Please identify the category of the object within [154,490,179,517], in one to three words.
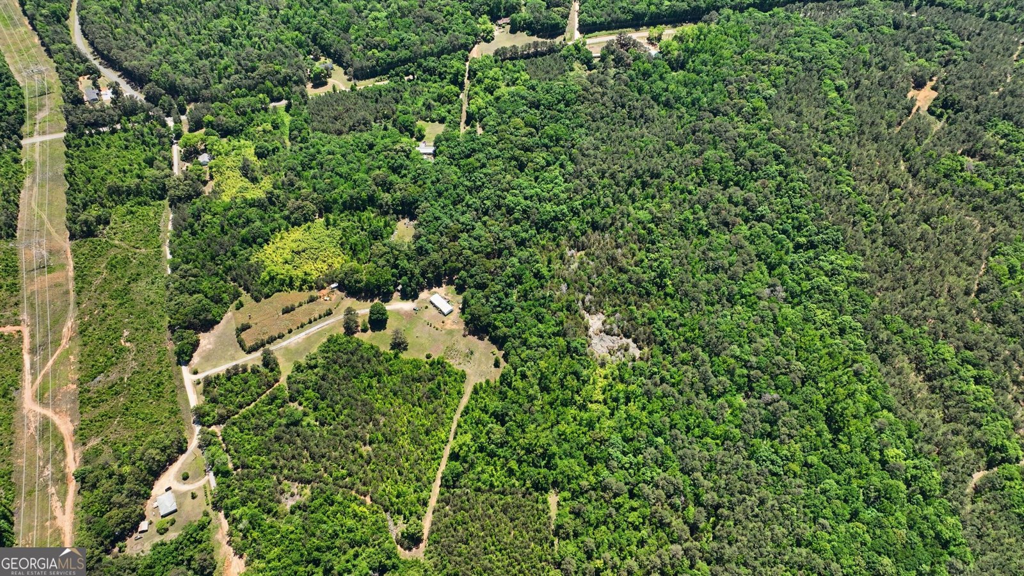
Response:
house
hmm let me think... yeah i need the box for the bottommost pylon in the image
[14,242,53,268]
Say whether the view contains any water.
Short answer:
No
